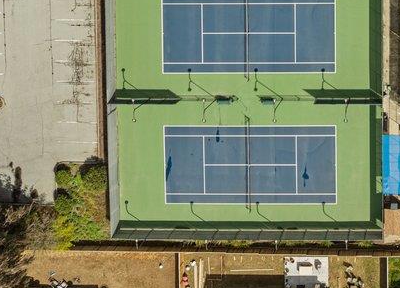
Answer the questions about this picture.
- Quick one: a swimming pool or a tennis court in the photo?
tennis court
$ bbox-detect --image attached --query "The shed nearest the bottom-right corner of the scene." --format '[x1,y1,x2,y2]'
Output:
[383,208,400,236]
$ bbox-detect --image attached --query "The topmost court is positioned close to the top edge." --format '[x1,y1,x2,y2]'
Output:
[116,0,381,99]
